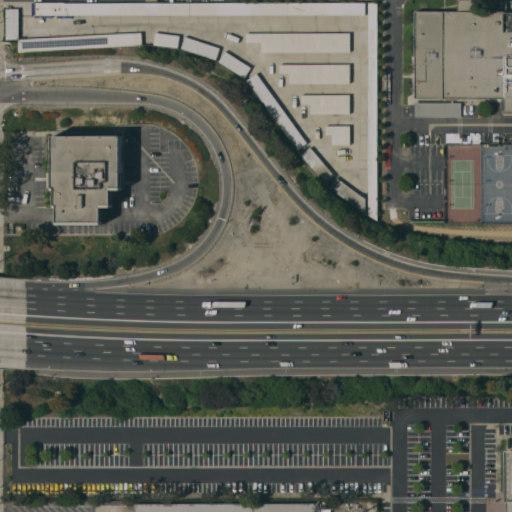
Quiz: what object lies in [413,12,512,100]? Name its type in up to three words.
building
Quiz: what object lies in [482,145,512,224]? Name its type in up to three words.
basketball court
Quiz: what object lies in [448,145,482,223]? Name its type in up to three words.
tennis court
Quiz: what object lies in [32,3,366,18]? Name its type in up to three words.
shed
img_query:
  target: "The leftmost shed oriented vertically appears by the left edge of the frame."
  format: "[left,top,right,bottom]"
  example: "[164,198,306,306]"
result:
[6,8,19,40]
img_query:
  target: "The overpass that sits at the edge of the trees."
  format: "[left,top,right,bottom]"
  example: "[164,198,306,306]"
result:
[0,278,26,369]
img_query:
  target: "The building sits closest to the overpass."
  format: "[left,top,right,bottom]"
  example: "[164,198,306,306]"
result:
[50,136,122,226]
